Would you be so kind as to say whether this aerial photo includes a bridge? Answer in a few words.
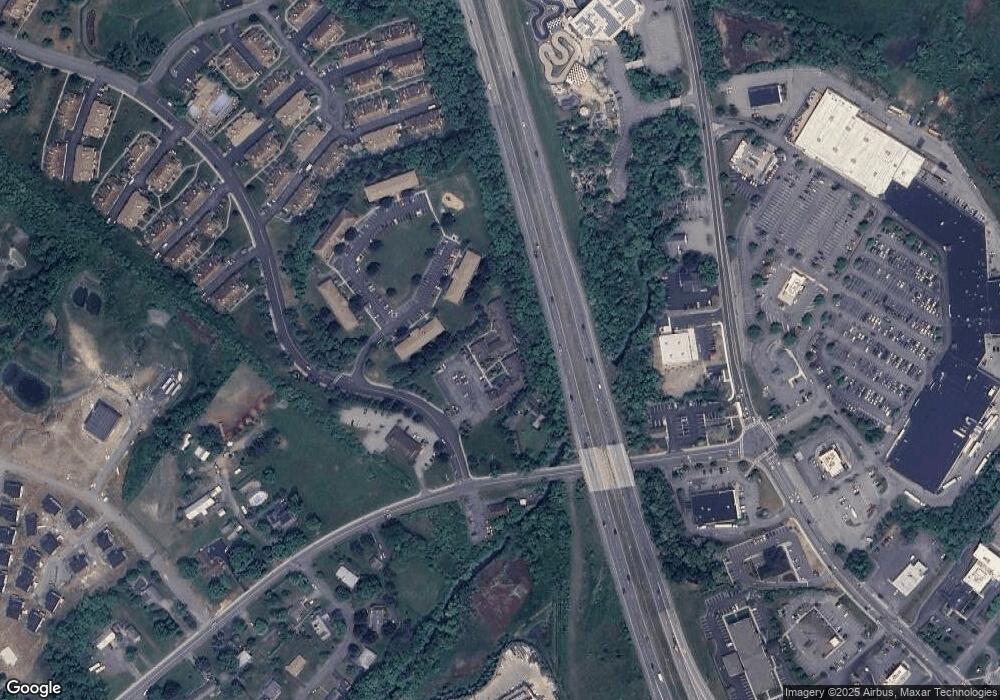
Yes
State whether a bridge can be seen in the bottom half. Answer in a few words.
Yes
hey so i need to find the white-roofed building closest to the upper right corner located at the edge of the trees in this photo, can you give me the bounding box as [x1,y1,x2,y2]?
[792,89,926,202]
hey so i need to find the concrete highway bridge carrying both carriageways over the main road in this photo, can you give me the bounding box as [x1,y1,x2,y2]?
[581,436,633,495]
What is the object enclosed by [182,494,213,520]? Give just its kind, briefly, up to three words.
barn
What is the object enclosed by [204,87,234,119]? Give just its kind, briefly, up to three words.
swimming pool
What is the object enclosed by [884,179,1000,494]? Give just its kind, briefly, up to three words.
building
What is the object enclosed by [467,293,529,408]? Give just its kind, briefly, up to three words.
house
